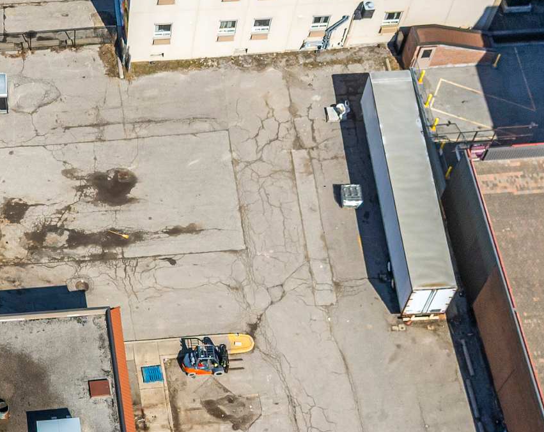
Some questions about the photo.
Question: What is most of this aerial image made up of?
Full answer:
Most of the picture is covered by paved ground.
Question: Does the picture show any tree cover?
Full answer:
No, there is no tree cover in the image.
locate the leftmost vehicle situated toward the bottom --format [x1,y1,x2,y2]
[188,340,253,378]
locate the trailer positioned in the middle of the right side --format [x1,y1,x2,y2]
[361,71,458,320]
